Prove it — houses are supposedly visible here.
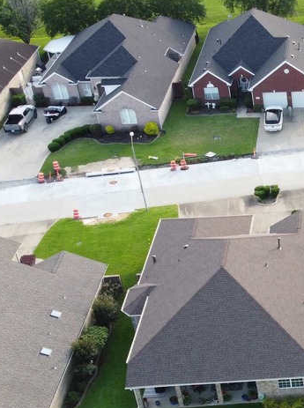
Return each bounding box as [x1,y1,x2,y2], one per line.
[113,215,304,408]
[186,12,304,114]
[35,11,196,135]
[0,235,110,408]
[0,22,46,118]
